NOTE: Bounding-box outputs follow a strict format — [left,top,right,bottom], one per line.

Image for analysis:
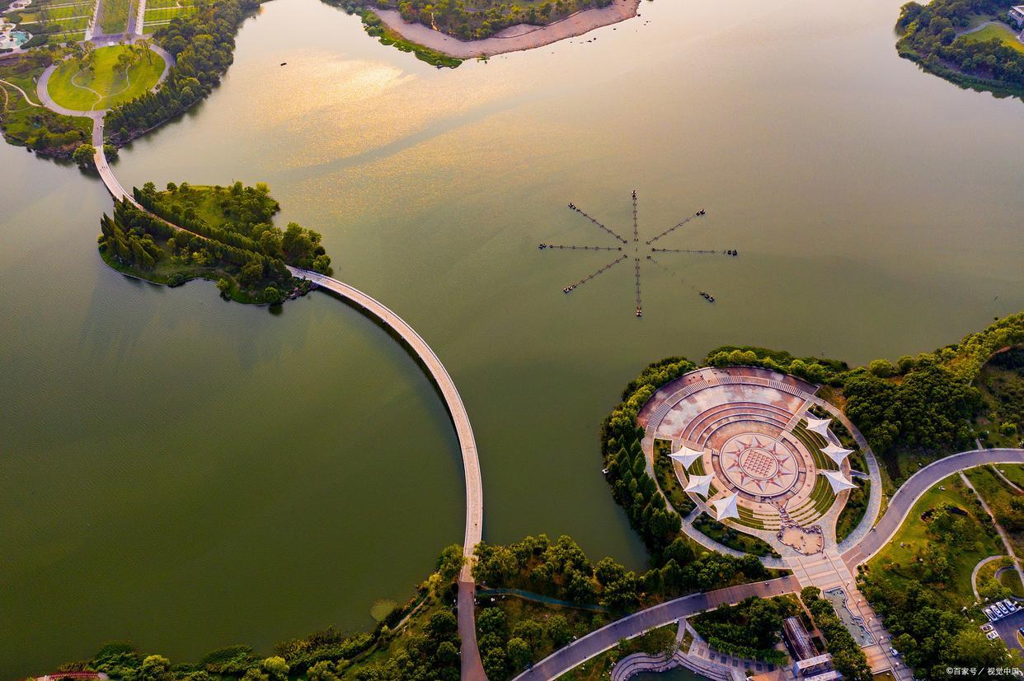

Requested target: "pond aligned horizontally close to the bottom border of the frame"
[611,653,736,681]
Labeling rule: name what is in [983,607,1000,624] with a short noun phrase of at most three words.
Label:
car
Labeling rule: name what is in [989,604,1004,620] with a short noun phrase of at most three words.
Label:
car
